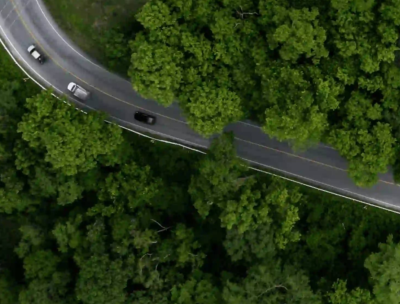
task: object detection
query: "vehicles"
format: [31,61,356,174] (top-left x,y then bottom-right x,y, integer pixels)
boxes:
[67,82,93,102]
[134,110,157,124]
[25,44,48,68]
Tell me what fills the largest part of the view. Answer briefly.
trees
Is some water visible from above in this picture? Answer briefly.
No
